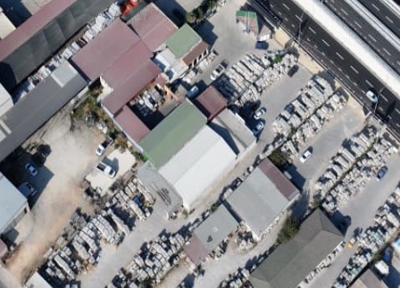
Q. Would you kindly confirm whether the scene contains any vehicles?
Yes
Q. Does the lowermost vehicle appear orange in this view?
No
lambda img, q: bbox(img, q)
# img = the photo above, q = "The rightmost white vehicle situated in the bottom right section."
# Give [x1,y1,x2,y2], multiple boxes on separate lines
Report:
[372,258,396,278]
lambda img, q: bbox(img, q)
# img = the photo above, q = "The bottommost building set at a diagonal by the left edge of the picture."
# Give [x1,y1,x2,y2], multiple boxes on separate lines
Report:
[0,62,89,171]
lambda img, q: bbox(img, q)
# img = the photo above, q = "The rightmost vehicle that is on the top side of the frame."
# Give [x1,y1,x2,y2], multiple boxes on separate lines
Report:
[363,89,379,104]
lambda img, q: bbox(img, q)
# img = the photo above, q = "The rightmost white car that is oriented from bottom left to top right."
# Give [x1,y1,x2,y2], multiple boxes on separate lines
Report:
[298,148,314,165]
